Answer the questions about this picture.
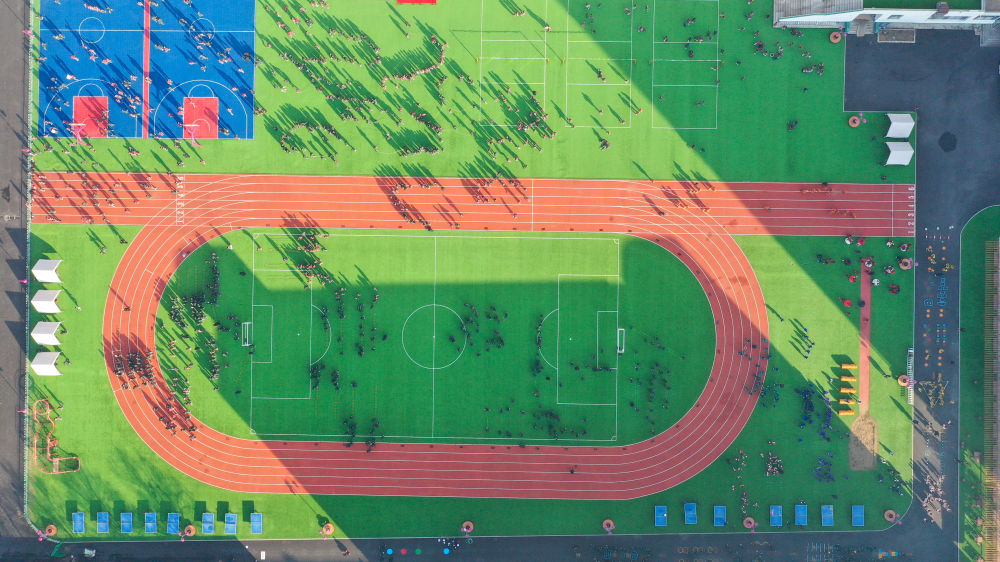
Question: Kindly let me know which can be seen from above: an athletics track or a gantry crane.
athletics track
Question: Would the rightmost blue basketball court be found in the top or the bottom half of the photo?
top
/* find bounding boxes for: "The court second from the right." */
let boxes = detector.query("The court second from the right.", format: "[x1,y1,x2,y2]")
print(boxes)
[565,0,633,127]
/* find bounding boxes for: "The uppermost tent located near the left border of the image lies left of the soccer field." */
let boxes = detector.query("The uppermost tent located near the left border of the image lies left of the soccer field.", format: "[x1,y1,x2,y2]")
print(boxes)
[31,259,72,282]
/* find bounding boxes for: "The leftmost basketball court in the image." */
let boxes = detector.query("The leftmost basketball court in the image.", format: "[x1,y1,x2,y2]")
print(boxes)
[38,0,144,139]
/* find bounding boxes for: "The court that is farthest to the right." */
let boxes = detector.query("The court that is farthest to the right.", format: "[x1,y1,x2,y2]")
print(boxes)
[652,0,720,128]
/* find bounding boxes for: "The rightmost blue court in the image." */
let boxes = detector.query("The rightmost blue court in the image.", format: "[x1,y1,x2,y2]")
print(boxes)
[148,0,255,139]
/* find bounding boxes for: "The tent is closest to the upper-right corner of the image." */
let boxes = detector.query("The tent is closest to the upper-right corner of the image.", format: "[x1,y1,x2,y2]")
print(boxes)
[878,114,917,140]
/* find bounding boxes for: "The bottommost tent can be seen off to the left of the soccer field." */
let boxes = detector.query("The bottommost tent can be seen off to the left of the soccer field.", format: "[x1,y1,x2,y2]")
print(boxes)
[31,351,72,375]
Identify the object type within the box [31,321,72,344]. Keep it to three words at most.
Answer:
tent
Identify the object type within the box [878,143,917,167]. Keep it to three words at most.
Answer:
tent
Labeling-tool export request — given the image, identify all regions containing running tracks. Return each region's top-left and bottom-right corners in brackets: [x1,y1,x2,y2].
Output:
[33,175,916,497]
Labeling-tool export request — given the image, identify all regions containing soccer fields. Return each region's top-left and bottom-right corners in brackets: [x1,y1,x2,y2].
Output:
[250,234,619,441]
